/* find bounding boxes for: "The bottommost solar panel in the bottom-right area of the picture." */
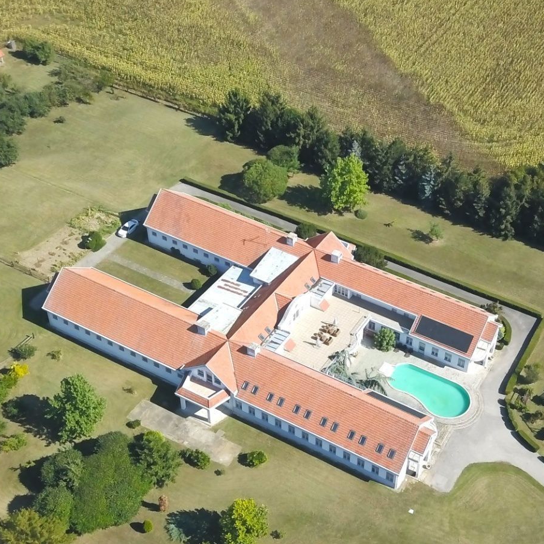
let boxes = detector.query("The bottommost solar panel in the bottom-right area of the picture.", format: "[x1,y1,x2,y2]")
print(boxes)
[367,393,427,419]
